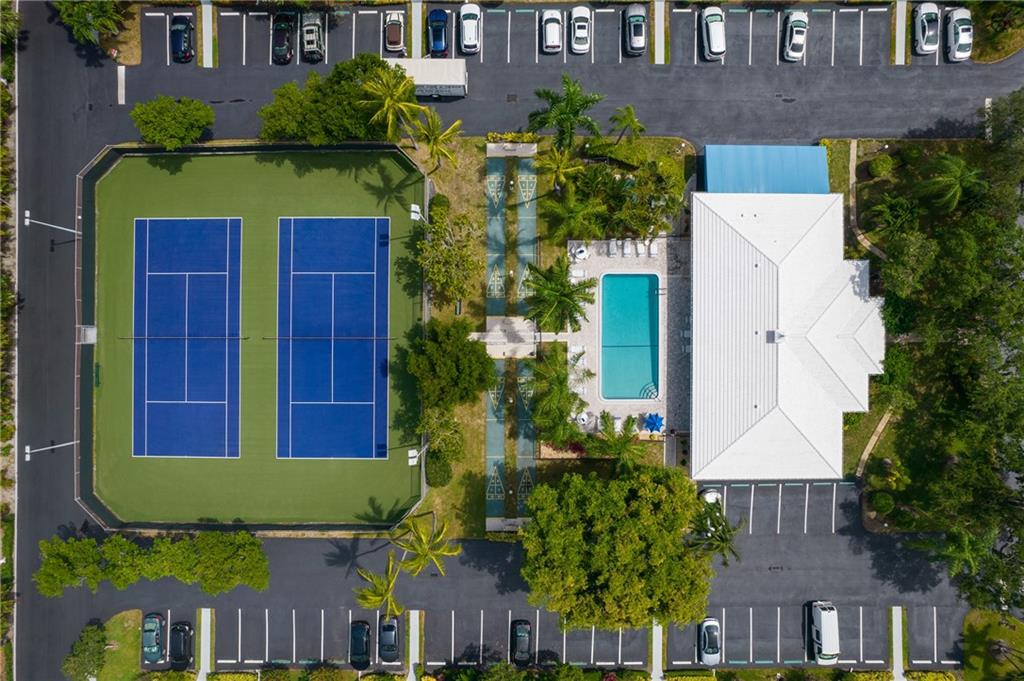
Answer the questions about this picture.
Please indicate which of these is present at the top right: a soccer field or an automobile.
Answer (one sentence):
There is an automobile at the top right.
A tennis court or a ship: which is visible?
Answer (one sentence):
The one in the frame is a tennis court.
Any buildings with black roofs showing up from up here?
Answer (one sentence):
No, there's no building with a black roof here.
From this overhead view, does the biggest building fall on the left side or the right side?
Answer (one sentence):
The biggest building appears in the right half of the scene.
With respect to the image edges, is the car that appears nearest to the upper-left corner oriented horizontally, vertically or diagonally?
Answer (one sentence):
The car that appears nearest to the upper-left corner has been laid out vertically relative to the frame.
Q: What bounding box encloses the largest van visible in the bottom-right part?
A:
[809,598,840,665]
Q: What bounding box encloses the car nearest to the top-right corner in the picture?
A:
[946,11,973,62]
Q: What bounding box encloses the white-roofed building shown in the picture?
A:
[690,192,885,480]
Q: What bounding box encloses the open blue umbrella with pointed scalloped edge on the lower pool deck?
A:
[642,410,663,432]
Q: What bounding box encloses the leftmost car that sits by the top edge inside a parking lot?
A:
[170,15,196,65]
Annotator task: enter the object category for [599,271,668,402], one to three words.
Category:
swimming pool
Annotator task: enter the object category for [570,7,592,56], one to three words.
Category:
car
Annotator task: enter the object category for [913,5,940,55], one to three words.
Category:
car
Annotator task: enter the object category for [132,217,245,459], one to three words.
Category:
tennis court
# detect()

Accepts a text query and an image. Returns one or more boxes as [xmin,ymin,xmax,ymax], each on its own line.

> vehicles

[300,15,324,63]
[541,9,563,55]
[377,613,400,662]
[170,15,196,65]
[349,618,372,670]
[913,5,940,55]
[946,11,973,62]
[168,619,194,670]
[384,13,405,54]
[783,12,809,63]
[570,7,592,56]
[698,615,722,666]
[272,14,296,65]
[700,8,725,62]
[809,598,840,665]
[625,5,648,56]
[511,618,532,665]
[141,612,167,662]
[427,10,449,58]
[458,4,481,55]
